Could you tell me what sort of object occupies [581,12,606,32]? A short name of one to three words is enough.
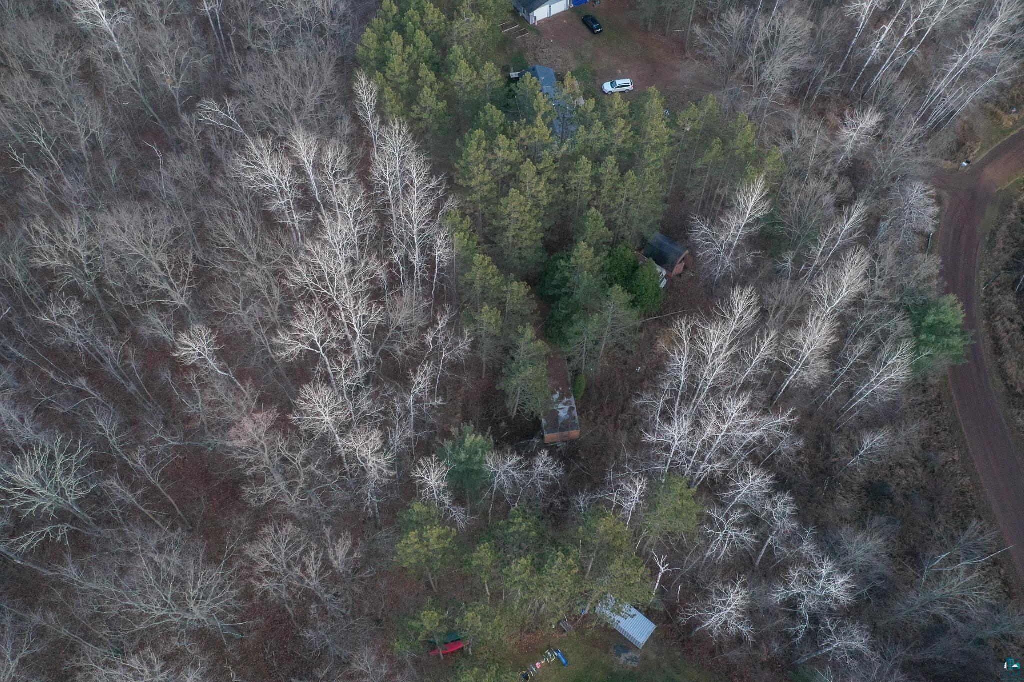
car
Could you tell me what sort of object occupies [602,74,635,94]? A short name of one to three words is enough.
car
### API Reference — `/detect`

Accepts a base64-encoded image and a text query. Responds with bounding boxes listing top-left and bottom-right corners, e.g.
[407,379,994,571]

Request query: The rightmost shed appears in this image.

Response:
[648,233,694,279]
